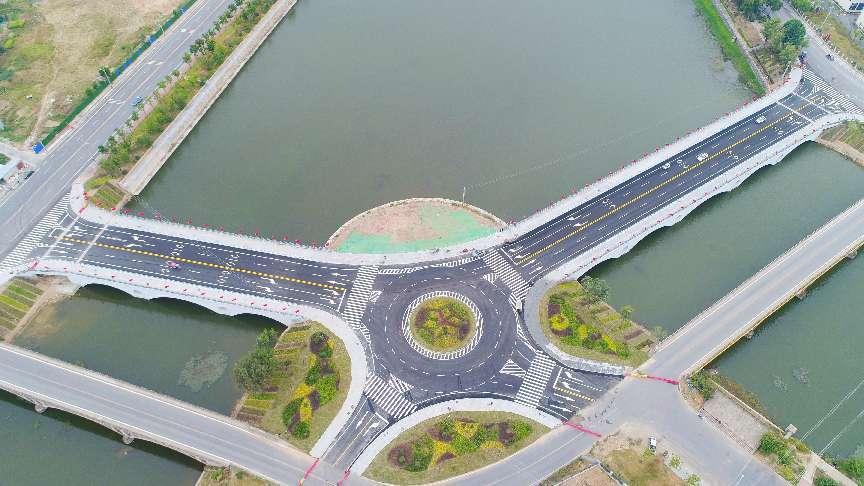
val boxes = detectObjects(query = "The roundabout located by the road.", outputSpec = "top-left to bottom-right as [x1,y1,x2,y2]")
[320,243,624,472]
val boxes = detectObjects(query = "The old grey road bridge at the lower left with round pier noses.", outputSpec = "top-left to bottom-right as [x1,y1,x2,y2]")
[0,342,233,464]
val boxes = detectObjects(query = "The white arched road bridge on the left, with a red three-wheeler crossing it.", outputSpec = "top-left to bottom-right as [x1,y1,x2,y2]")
[0,193,357,324]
